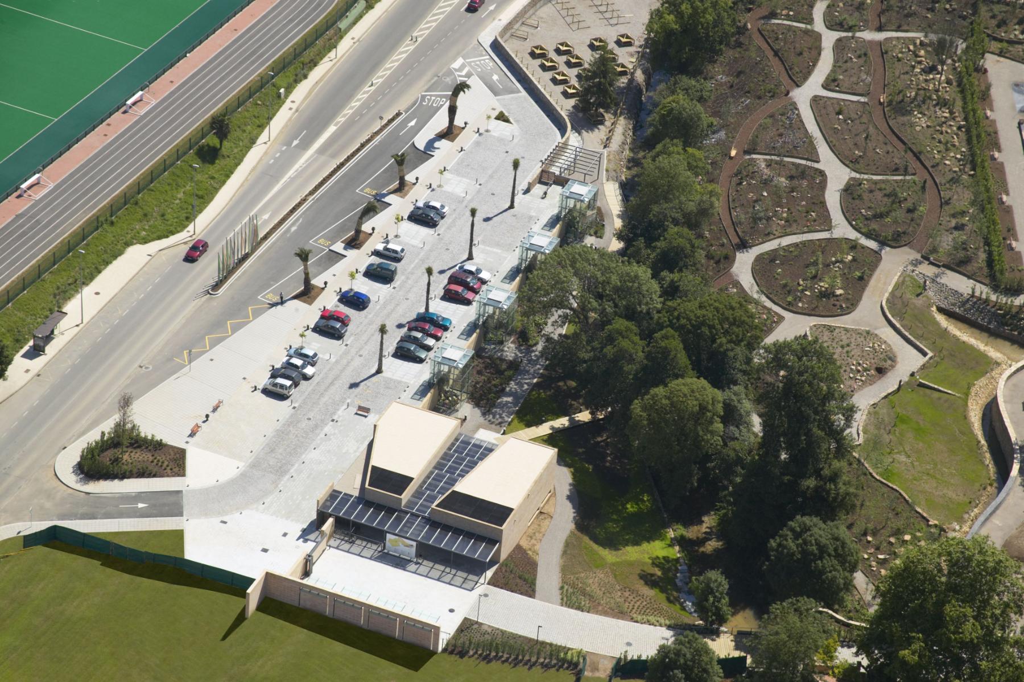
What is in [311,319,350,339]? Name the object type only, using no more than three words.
car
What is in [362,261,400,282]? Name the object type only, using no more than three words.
car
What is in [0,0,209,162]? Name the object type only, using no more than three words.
sports field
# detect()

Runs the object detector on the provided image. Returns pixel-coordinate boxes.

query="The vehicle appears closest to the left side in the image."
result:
[184,237,210,260]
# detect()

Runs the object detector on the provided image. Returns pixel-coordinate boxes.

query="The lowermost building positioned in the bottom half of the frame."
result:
[316,400,557,584]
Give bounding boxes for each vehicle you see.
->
[393,340,429,362]
[398,330,438,351]
[311,319,350,339]
[337,292,373,310]
[362,261,400,282]
[406,321,445,341]
[260,378,297,399]
[445,269,484,293]
[457,265,493,284]
[406,209,443,227]
[442,284,477,304]
[184,237,210,260]
[373,243,407,262]
[415,312,453,332]
[266,367,306,387]
[318,309,353,327]
[285,347,321,366]
[279,358,319,379]
[413,202,450,219]
[465,0,487,10]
